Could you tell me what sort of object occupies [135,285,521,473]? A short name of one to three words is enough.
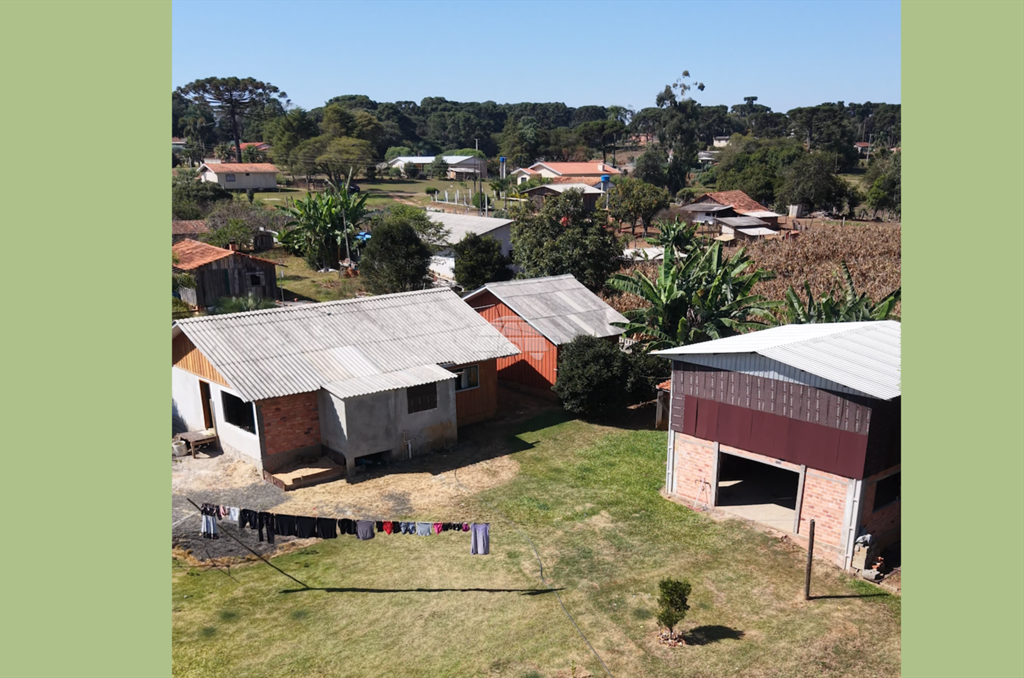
house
